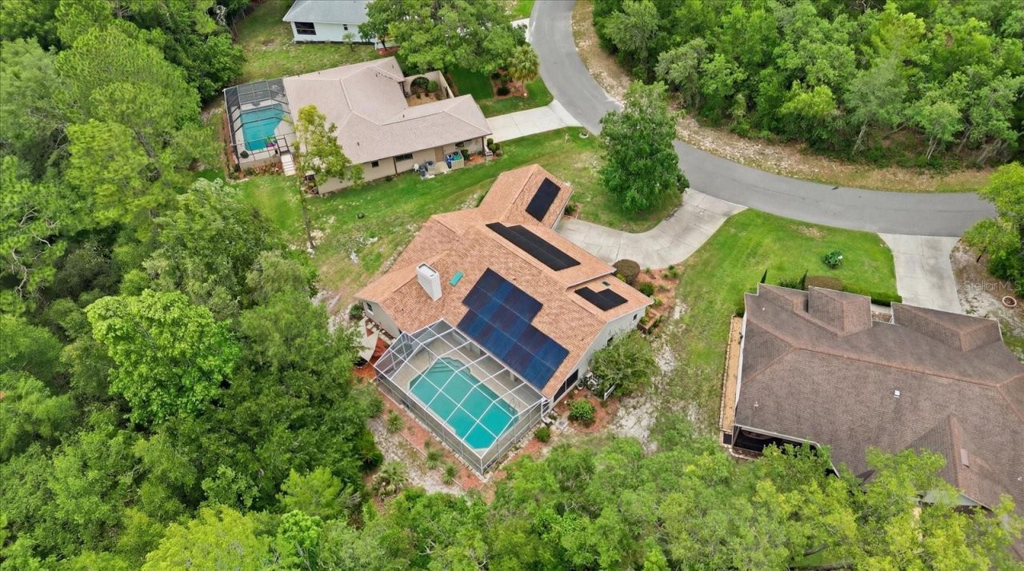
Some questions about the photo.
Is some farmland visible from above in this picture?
No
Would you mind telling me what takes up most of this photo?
trees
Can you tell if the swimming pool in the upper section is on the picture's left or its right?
left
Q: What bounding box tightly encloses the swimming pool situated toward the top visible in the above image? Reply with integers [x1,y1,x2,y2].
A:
[240,99,286,152]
